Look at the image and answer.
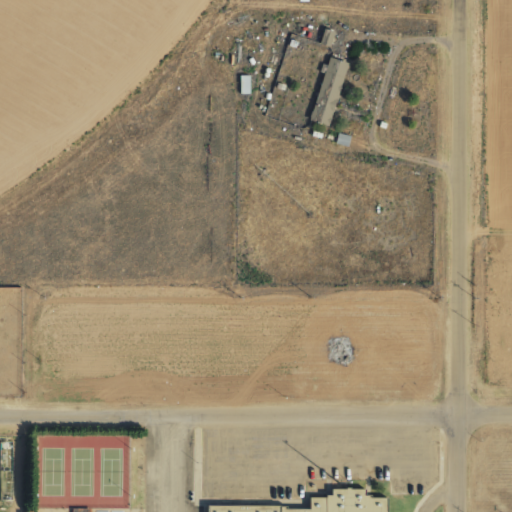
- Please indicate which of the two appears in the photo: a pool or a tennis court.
tennis court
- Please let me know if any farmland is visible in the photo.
Yes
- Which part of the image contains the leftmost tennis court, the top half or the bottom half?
bottom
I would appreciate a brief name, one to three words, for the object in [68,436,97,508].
tennis court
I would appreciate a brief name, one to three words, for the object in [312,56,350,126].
house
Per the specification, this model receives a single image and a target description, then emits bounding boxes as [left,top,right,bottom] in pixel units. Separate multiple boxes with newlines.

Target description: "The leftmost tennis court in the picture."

[38,436,68,508]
